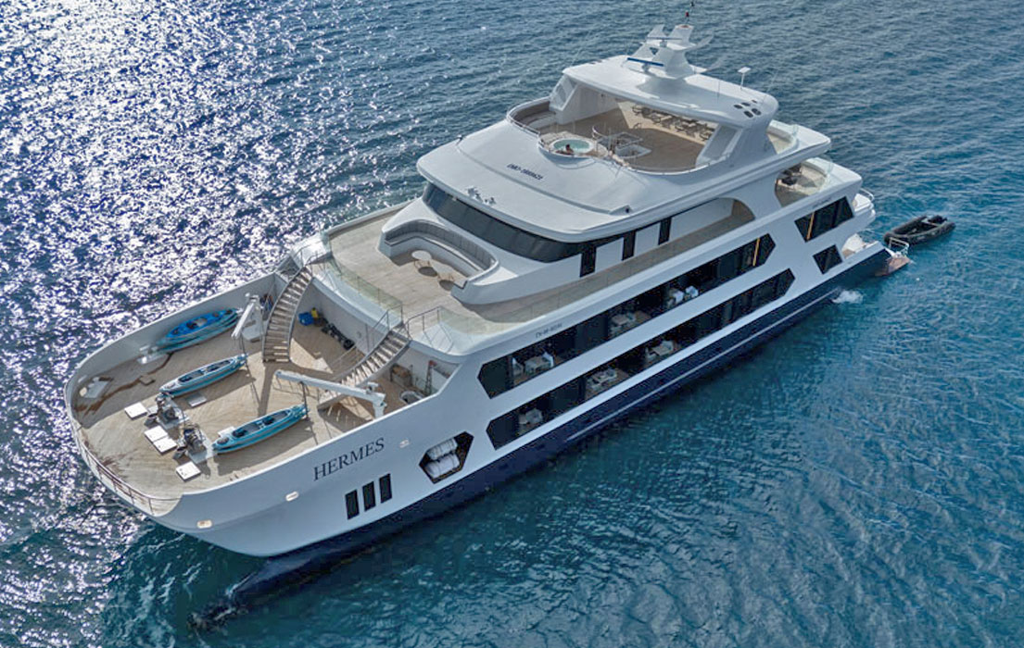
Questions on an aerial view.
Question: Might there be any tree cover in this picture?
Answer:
No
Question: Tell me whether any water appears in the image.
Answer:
Yes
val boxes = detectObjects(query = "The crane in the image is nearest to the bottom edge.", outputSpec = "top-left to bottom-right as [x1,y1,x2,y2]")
[277,369,397,420]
